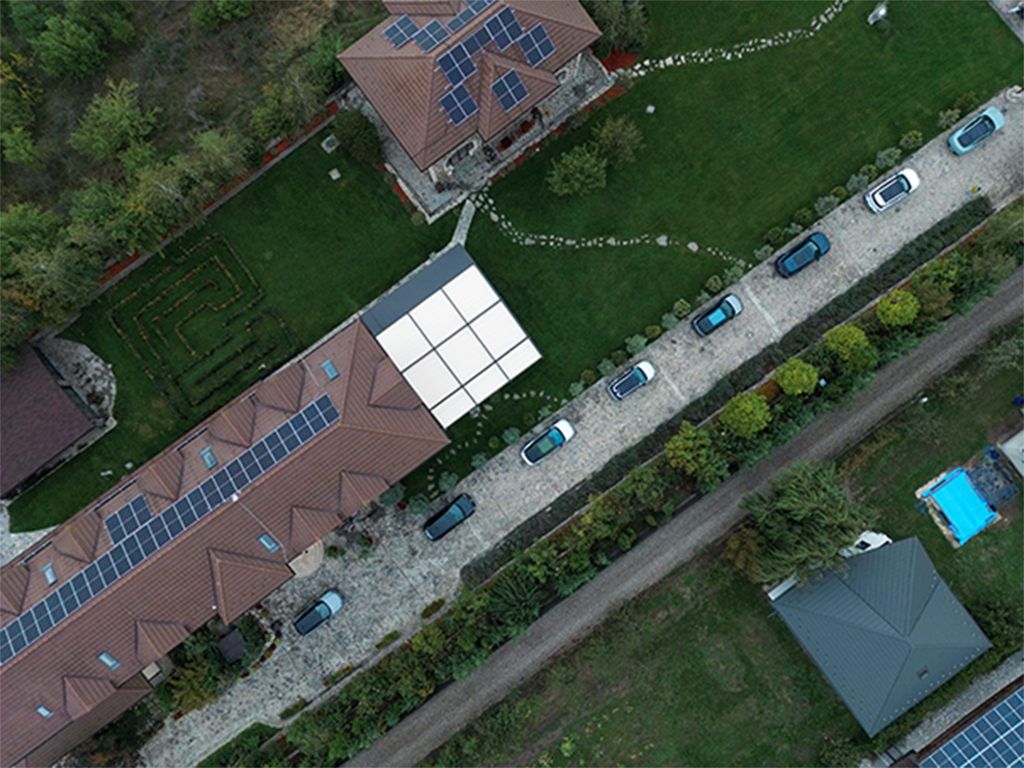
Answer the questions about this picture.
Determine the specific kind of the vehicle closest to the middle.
automobile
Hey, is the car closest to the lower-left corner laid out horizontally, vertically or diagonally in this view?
diagonally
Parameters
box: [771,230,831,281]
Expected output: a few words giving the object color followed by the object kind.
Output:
blue car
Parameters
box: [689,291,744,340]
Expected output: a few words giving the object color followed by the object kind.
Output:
blue car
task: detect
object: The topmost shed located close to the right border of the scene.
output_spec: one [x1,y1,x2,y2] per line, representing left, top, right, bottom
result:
[989,423,1024,478]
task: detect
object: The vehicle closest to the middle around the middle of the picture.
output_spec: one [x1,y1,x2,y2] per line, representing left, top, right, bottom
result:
[520,417,575,467]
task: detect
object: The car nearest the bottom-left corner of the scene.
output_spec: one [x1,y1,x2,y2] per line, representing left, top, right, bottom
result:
[289,586,347,639]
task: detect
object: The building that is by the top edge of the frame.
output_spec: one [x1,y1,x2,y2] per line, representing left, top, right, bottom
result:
[337,0,603,171]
